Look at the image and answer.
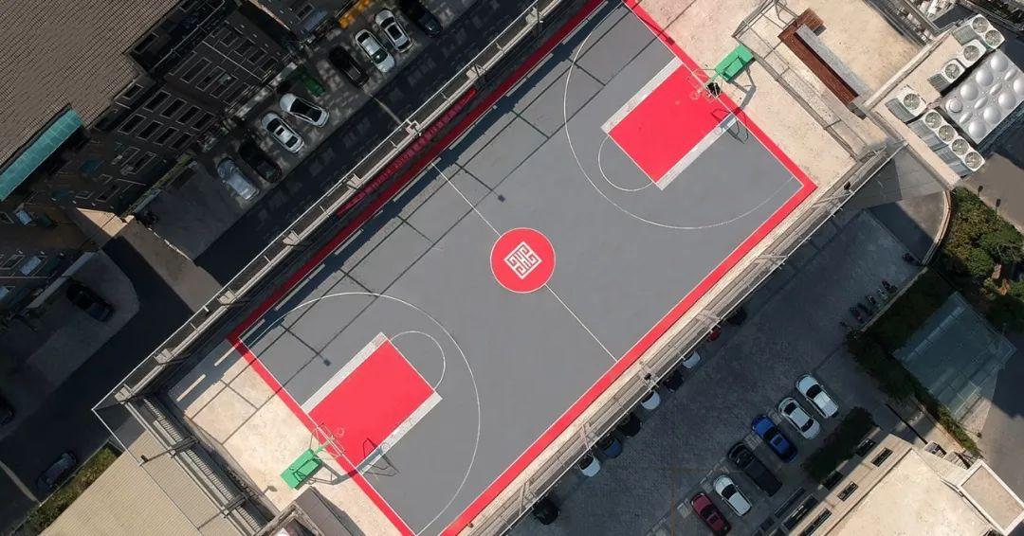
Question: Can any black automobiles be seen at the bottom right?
Yes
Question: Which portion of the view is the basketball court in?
center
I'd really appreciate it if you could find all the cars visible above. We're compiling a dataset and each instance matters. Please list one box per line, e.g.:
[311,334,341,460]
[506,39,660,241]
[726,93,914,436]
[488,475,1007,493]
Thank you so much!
[528,486,559,523]
[722,299,754,332]
[236,137,281,181]
[397,0,440,36]
[700,321,726,348]
[686,492,735,536]
[710,473,754,519]
[353,29,397,75]
[30,449,83,495]
[793,372,842,420]
[572,445,601,478]
[374,10,415,50]
[279,91,329,129]
[634,386,665,415]
[775,394,823,444]
[327,44,371,88]
[655,361,688,397]
[214,158,259,203]
[259,112,306,153]
[751,415,800,464]
[676,343,707,375]
[594,425,625,459]
[730,444,783,497]
[611,405,644,440]
[65,284,117,322]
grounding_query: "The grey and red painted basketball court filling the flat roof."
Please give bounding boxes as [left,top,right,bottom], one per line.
[224,0,819,536]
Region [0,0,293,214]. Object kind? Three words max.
building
